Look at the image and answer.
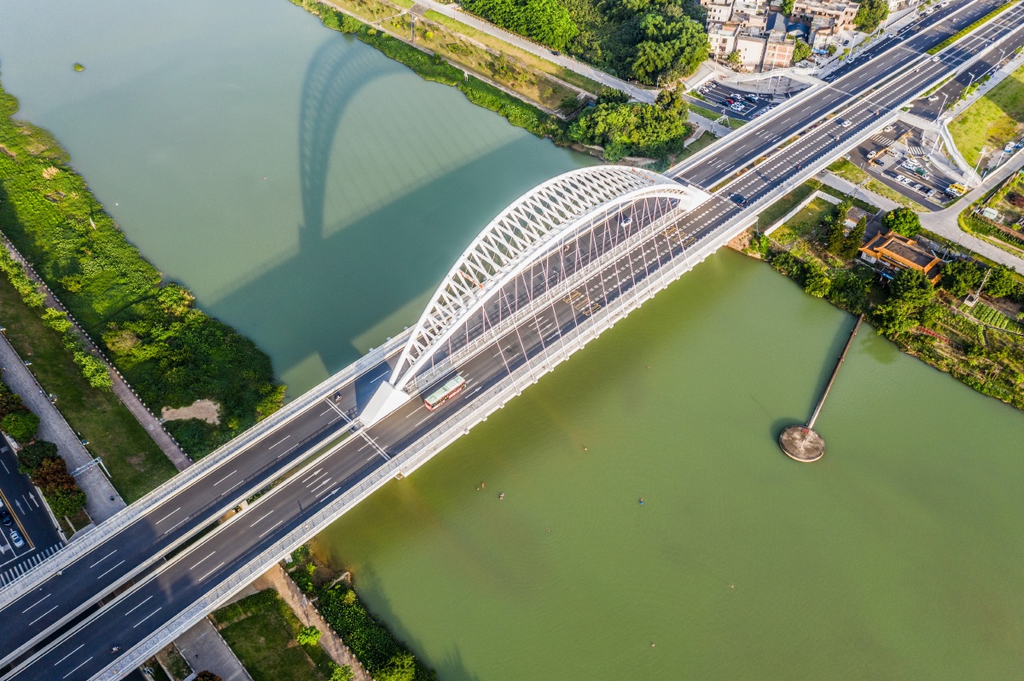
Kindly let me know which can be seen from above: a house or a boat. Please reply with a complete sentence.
It is a house that can be seen here.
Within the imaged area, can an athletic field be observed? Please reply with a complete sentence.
No, I find no athletic field anywhere in the image.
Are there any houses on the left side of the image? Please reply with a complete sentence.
No, no house appears on the left side of the image.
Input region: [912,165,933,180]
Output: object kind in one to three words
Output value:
vehicle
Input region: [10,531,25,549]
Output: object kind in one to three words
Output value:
car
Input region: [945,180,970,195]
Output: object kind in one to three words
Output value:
vehicle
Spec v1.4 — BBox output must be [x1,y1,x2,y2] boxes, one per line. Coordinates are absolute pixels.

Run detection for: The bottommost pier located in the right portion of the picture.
[779,312,866,464]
